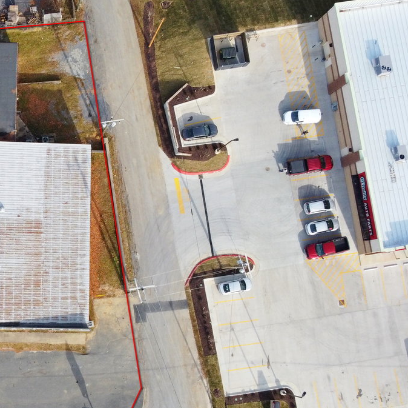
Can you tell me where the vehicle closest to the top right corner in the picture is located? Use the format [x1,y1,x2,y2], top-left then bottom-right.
[281,108,323,127]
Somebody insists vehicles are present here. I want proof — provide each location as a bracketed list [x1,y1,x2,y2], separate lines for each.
[300,197,336,216]
[287,156,333,176]
[303,217,341,236]
[281,108,323,127]
[216,277,254,296]
[301,238,352,259]
[179,123,217,142]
